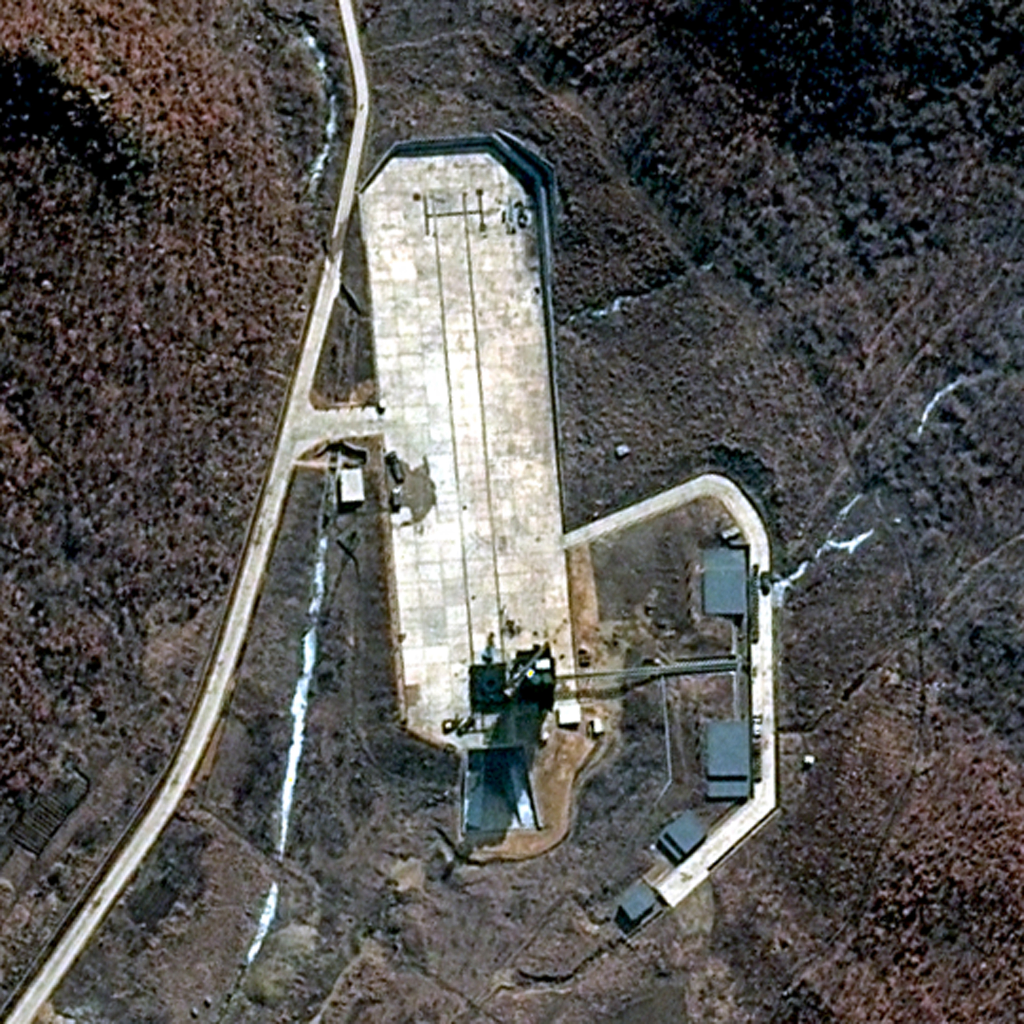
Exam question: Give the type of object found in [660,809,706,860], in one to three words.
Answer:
building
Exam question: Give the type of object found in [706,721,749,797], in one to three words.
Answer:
building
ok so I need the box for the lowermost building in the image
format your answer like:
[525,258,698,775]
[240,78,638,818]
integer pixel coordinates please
[620,880,655,921]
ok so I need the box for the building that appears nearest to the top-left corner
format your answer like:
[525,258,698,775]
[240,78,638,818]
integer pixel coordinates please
[341,469,365,504]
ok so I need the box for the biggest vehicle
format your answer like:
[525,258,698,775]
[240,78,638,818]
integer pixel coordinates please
[385,450,405,481]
